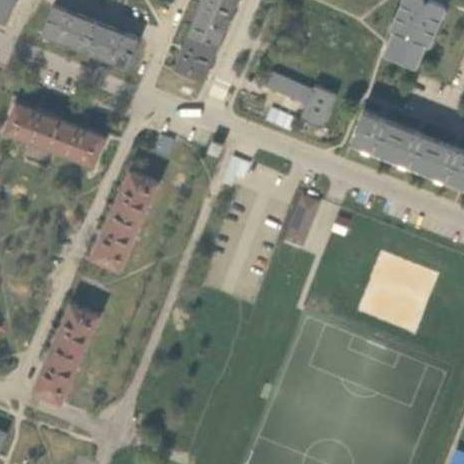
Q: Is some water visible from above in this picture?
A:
No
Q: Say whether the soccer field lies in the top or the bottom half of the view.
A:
bottom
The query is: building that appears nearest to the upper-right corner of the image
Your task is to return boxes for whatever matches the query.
[383,0,446,74]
